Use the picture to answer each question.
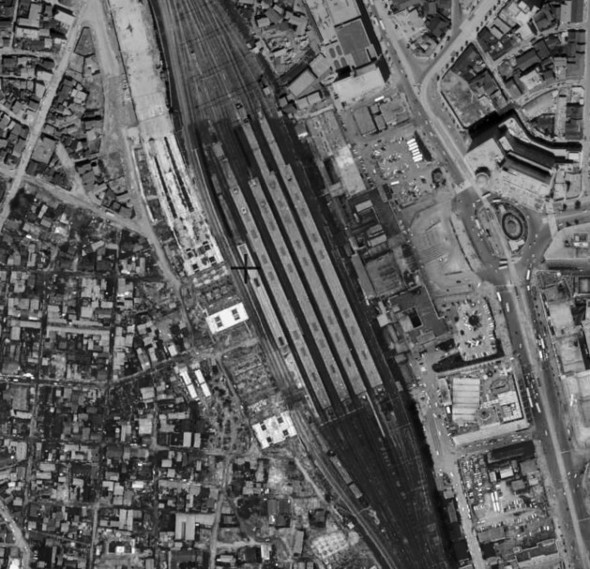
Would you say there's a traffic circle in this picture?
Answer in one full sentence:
Yes, the picture does show a traffic circle.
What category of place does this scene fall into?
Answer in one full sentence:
The picture captures a residential area.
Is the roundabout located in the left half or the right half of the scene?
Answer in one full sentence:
The roundabout sits on the right side.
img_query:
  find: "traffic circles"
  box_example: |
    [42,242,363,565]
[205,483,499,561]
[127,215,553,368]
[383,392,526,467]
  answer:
[478,202,529,259]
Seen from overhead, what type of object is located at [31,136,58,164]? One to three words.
house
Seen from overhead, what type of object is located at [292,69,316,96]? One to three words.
building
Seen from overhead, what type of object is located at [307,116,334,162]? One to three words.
building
